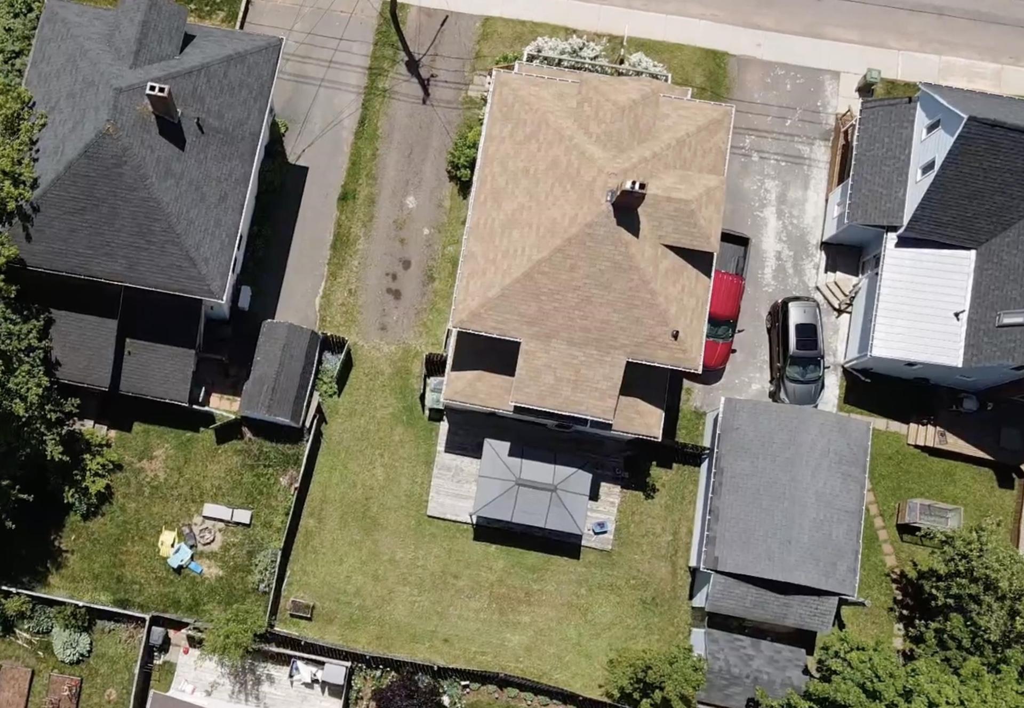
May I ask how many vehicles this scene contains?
2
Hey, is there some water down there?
No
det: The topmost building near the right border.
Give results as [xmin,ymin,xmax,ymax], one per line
[825,80,1024,386]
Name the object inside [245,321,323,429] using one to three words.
shed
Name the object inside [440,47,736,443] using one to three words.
house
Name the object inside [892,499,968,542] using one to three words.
greenhouse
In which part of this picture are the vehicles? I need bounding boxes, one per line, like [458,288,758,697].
[769,298,829,407]
[683,230,752,384]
